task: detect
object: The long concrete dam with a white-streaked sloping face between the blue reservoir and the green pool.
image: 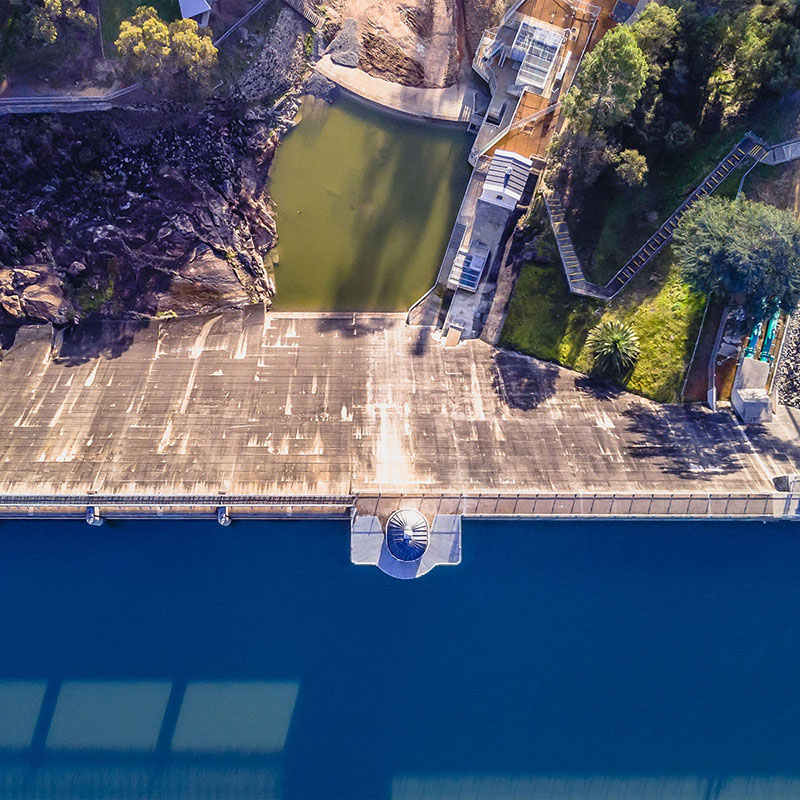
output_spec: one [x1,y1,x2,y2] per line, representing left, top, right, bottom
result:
[0,303,800,521]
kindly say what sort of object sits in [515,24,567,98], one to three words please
building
